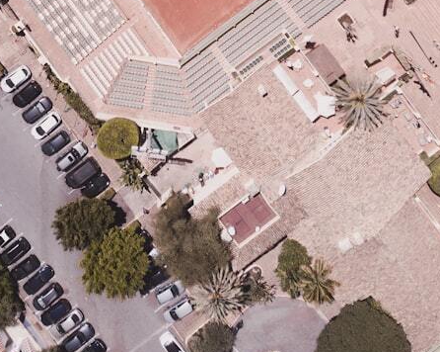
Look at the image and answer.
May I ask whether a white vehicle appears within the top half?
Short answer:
Yes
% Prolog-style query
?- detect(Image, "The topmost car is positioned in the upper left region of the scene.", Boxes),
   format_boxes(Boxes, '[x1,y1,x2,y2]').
[0,65,32,92]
